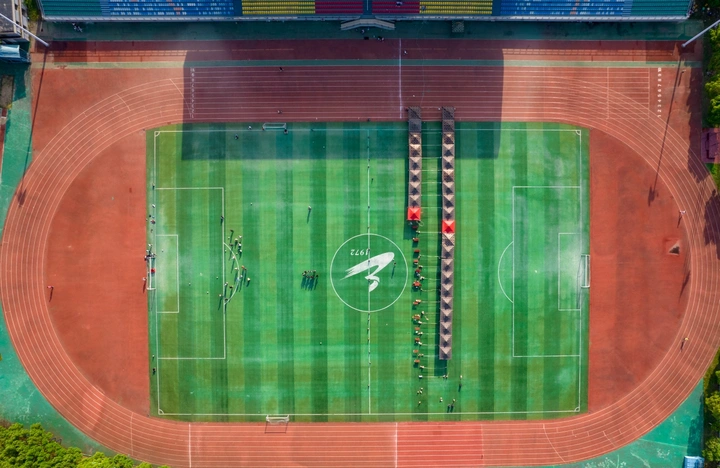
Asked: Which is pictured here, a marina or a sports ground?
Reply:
sports ground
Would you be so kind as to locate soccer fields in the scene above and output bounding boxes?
[144,120,591,420]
